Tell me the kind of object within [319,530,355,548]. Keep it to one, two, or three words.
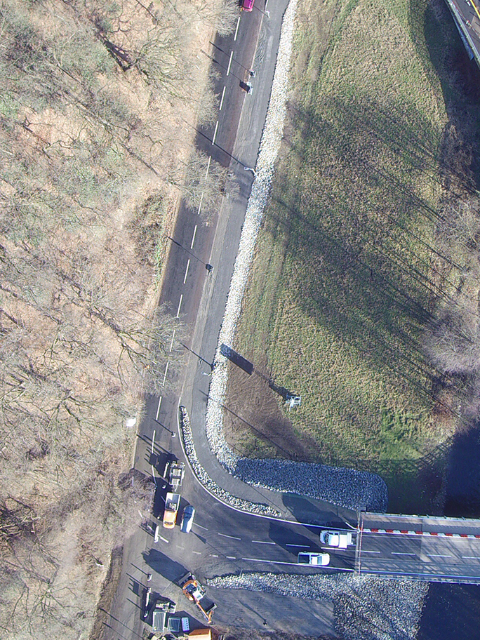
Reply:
vehicle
